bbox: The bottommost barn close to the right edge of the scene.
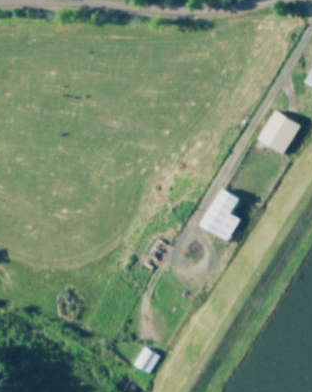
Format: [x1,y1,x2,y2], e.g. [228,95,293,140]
[258,111,300,154]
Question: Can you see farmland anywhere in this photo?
Yes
